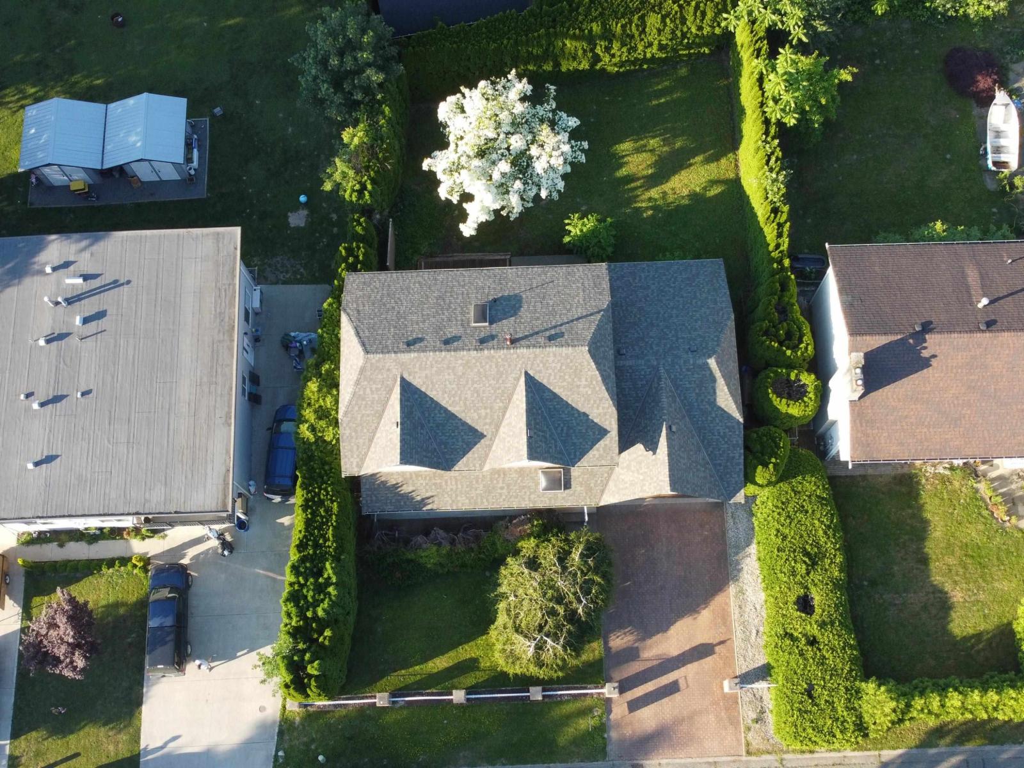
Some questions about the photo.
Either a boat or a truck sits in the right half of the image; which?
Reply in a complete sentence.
What appears in the right half of the image is a boat.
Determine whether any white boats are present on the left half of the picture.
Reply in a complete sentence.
No, I can find no white boat on the left half of the picture.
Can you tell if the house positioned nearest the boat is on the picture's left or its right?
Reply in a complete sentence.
The house positioned nearest the boat appears in the right half of the scene.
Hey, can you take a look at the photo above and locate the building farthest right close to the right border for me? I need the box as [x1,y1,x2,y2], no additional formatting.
[810,235,1024,470]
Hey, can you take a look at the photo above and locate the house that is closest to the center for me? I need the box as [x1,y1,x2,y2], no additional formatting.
[337,257,744,519]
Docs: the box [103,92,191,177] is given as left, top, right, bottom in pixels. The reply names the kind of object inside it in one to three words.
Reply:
shed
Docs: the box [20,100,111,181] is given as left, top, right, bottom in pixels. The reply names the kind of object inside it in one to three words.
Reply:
shed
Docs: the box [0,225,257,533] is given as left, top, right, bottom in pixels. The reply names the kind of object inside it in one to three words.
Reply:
building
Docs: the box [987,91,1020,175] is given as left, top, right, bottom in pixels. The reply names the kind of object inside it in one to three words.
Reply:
boat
